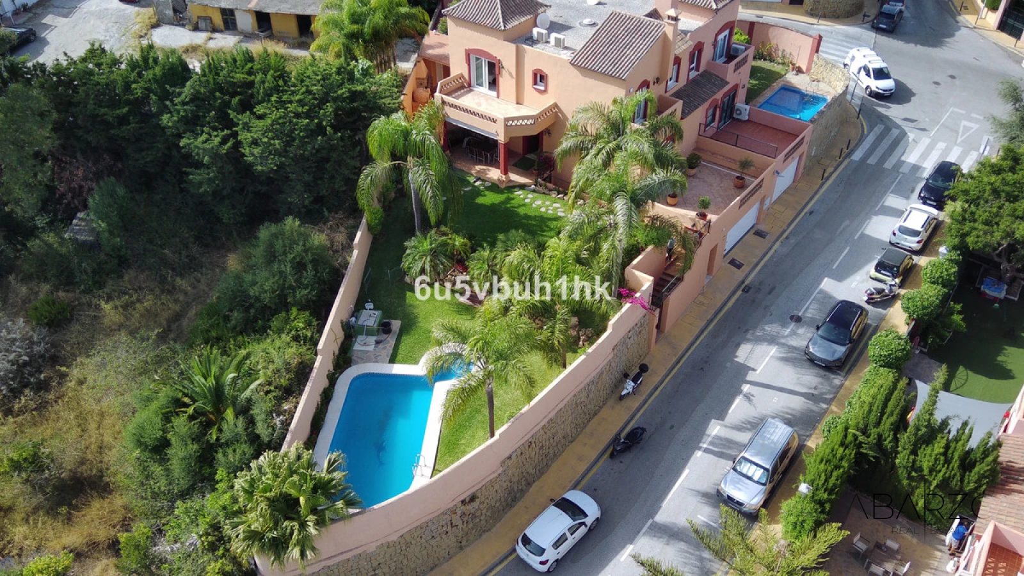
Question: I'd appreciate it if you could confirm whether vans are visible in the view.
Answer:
Yes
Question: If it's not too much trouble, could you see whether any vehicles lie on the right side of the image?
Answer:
Yes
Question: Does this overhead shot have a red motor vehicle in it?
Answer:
No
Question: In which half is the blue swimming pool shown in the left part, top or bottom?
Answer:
bottom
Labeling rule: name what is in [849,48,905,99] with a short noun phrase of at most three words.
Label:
van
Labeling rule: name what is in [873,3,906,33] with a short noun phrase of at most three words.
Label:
car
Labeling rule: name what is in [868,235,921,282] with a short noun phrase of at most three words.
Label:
car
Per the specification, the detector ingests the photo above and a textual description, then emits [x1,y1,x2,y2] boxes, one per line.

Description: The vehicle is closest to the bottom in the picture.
[512,492,601,576]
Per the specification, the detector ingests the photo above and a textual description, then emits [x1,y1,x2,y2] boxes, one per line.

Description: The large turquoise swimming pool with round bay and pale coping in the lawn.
[307,346,483,511]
